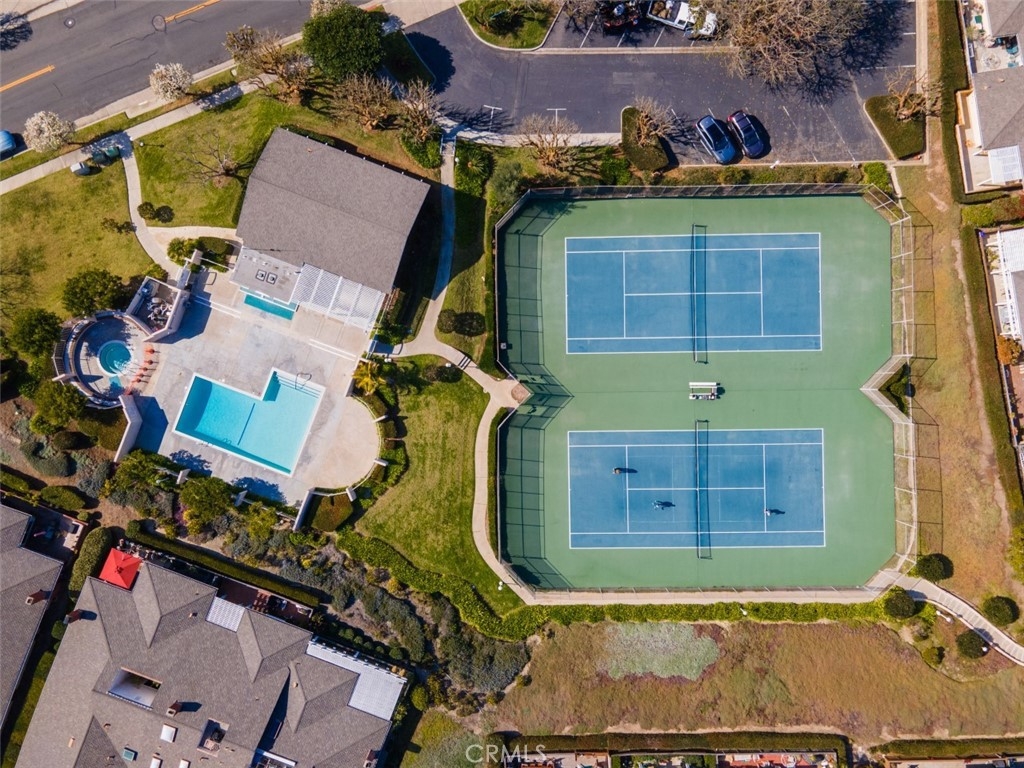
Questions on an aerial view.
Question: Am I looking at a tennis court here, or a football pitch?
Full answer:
It is a tennis court that can be seen here.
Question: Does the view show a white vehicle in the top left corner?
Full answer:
No, the scene shows no white vehicle in the top left corner.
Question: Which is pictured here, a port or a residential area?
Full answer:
What you see here is a residential area.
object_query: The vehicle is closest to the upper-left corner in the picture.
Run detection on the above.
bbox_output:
[0,132,20,158]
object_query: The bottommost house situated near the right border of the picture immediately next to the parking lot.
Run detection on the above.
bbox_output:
[962,67,1024,152]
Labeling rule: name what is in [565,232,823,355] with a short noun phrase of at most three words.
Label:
tennis court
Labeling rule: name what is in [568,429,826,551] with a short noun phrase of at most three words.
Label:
tennis court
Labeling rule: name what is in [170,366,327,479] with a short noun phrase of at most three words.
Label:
swimming pool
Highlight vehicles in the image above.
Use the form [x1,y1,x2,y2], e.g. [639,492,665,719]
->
[0,132,20,158]
[728,109,762,161]
[601,0,662,29]
[696,113,734,166]
[656,0,716,38]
